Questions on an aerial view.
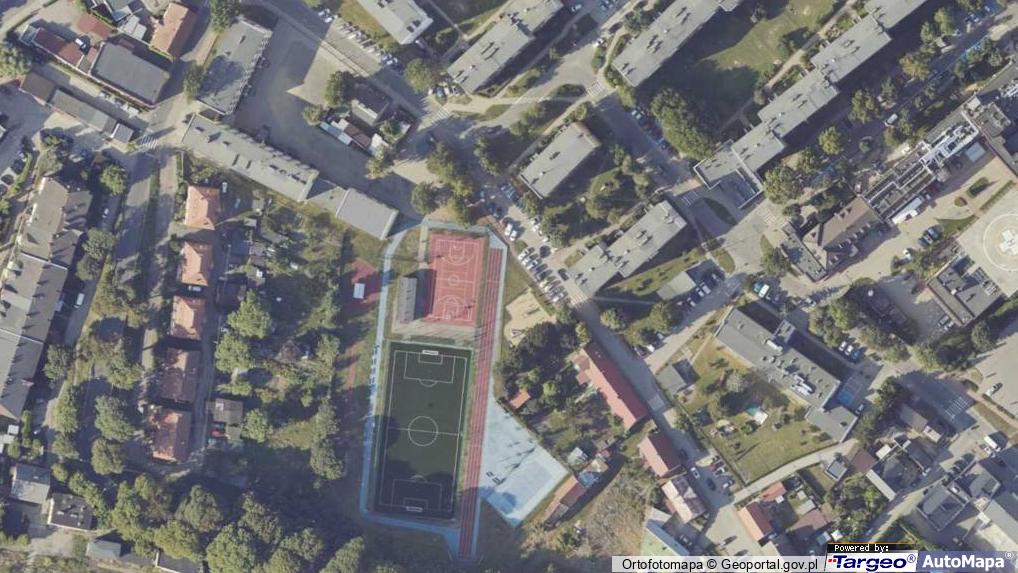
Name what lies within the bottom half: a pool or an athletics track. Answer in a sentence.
Looking within the bottom half, you will find an athletics track.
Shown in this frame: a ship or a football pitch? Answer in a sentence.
Looking from above, you can make out a football pitch.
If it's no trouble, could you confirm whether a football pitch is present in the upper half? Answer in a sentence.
No, in the upper half there is no football pitch.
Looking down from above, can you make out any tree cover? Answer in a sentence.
Yes, there's tree cover in this view.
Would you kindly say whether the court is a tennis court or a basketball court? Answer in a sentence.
From above, the court can be identified as a basketball court.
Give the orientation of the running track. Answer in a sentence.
In this picture, the running track is oriented vertically.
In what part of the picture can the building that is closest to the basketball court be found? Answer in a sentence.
The building that is closest to the basketball court appears toward the center of the photo.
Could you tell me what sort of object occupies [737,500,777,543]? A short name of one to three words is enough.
house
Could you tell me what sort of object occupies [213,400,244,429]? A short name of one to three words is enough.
shed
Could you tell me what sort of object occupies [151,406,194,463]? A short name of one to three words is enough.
house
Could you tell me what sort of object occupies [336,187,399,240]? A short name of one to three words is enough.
building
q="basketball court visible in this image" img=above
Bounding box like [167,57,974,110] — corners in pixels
[424,234,485,326]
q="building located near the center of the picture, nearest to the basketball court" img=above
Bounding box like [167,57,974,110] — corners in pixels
[398,277,418,321]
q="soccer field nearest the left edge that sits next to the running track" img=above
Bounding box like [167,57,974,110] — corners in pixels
[374,340,475,521]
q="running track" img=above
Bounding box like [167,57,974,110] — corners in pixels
[458,248,502,557]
